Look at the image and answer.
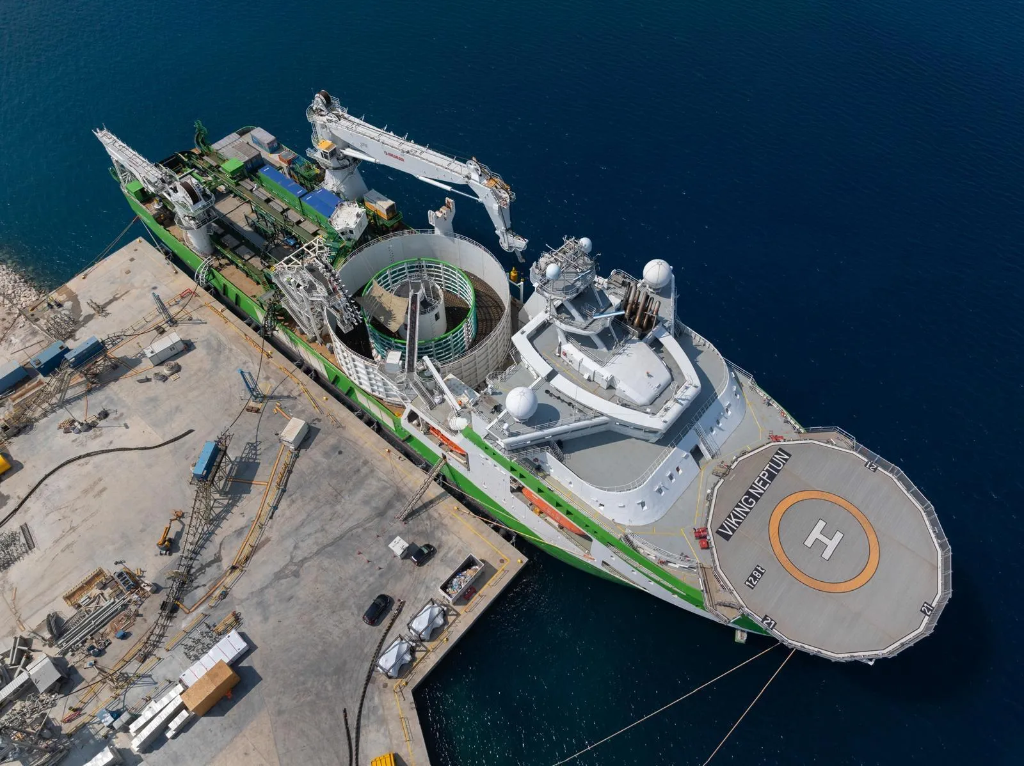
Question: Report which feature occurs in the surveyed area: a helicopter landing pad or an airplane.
helicopter landing pad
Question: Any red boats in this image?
Yes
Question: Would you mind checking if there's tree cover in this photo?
No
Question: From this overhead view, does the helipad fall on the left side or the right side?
right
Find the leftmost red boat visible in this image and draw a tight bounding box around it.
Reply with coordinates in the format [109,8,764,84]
[431,427,467,459]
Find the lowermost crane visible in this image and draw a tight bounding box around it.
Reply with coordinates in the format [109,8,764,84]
[425,357,467,433]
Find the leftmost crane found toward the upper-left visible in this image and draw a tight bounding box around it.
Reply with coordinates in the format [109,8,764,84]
[89,126,216,256]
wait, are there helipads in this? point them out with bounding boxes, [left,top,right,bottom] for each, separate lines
[688,422,954,666]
